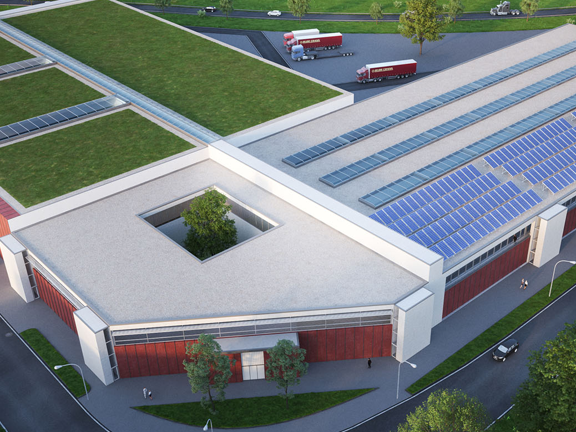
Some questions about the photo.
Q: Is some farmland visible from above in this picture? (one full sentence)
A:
No, there's no farmland in this view.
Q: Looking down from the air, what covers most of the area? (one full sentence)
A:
The largest share of the image is taken up by buildings.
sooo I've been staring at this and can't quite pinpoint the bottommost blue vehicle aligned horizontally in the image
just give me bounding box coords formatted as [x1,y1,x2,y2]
[293,45,351,60]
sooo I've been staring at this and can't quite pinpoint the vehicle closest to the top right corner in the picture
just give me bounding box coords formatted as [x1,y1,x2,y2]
[490,0,519,15]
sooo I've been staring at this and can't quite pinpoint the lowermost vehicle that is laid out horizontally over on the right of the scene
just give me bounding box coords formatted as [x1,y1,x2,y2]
[354,59,414,84]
